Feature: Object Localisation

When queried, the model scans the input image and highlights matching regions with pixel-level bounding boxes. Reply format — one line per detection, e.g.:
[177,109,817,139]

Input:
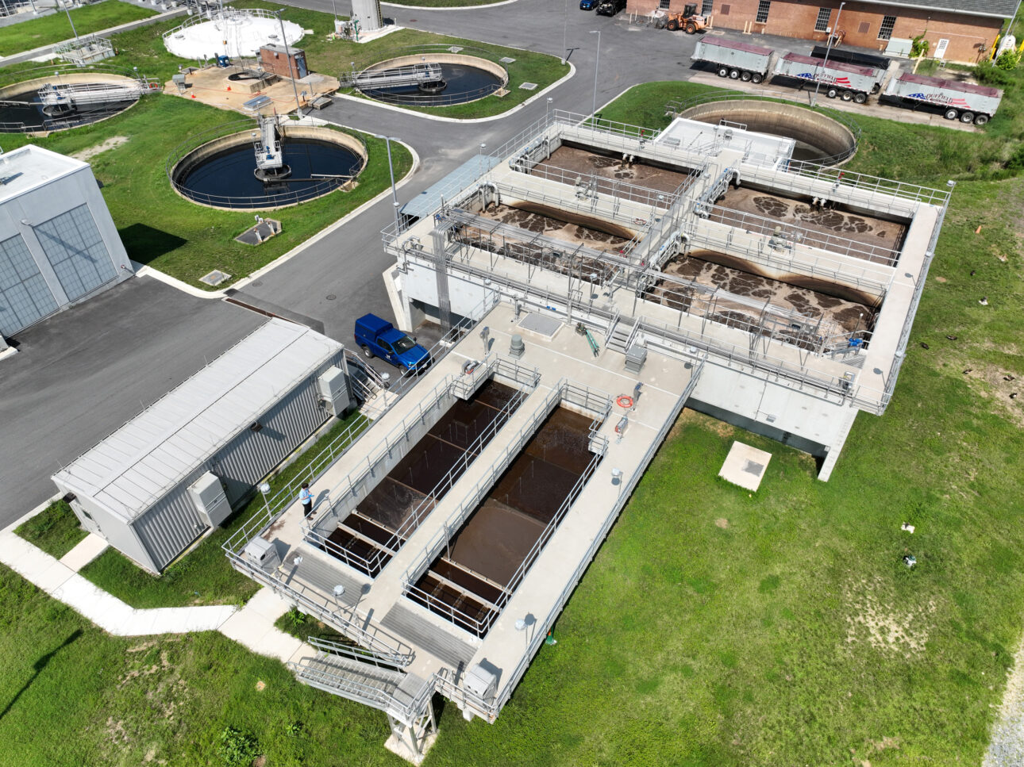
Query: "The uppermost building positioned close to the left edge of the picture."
[0,142,134,333]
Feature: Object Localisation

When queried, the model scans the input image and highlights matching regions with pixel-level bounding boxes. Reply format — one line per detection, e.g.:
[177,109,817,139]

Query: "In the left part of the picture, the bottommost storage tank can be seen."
[168,126,367,213]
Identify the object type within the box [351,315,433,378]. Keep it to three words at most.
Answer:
truck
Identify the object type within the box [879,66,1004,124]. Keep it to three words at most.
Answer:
trailer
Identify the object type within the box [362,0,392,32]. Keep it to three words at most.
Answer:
silo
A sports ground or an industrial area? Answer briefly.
industrial area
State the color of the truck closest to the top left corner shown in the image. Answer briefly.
blue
